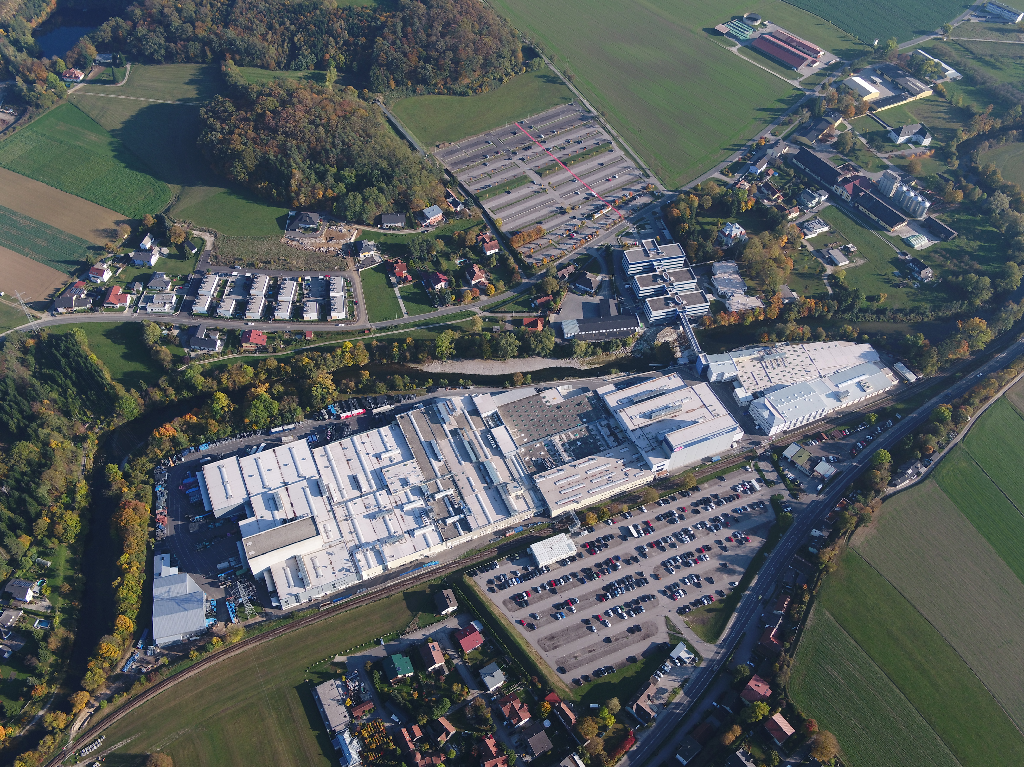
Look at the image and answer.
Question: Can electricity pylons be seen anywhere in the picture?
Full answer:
Yes, there's an electricity pylon here.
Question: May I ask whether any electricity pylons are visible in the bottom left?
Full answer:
Yes, an electricity pylon appears in the bottom left.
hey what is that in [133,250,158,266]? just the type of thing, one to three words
house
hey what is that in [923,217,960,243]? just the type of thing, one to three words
shed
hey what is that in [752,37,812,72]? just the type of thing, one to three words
barn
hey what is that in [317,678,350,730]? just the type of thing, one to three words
building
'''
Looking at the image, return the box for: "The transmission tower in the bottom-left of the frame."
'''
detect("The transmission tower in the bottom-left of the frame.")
[227,580,261,622]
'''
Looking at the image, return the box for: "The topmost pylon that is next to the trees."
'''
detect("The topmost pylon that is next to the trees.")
[11,290,37,331]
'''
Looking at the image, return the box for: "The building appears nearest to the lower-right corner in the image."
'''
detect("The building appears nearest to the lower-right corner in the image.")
[764,713,795,745]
